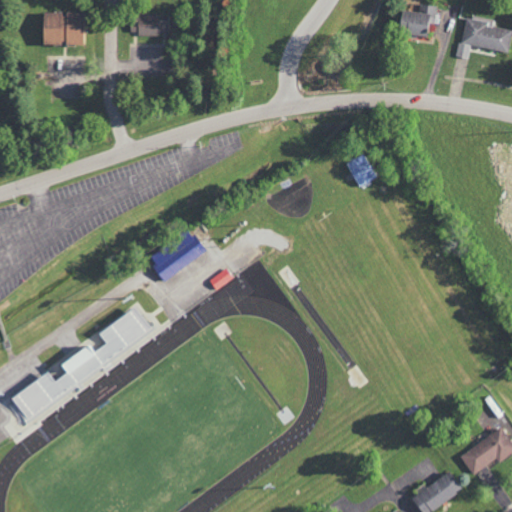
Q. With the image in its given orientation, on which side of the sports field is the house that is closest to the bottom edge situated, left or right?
on the right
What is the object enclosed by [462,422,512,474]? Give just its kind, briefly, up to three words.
house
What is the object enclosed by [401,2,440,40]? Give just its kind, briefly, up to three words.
house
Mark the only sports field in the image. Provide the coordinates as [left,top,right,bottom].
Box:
[28,327,285,512]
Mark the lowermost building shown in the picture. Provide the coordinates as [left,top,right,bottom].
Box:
[414,470,460,512]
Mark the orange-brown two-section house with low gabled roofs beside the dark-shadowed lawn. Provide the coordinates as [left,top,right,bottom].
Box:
[43,11,86,46]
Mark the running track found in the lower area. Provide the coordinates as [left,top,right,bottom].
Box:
[0,260,327,512]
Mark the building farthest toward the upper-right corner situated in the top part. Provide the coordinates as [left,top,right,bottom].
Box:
[456,14,512,60]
